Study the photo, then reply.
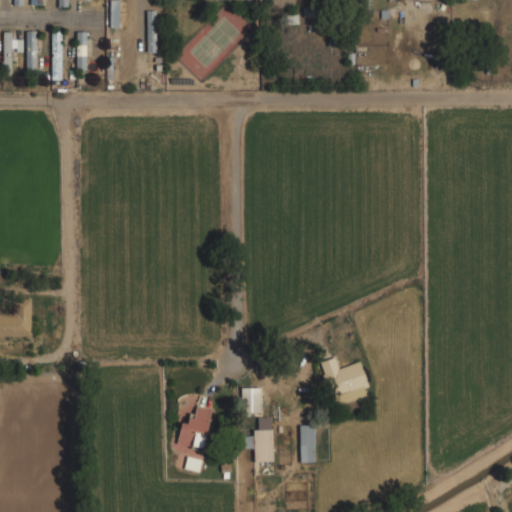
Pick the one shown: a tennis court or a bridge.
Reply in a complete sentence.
There is a tennis court in the scene.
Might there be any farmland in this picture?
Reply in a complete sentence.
Yes, some farmland is visible.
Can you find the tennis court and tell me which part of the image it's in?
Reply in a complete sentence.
The tennis court appears toward the top of the photo.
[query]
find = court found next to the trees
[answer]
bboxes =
[179,6,254,82]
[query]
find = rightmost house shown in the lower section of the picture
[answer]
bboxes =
[320,357,371,404]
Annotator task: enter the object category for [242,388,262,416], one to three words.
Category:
barn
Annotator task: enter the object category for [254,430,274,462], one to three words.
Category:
barn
